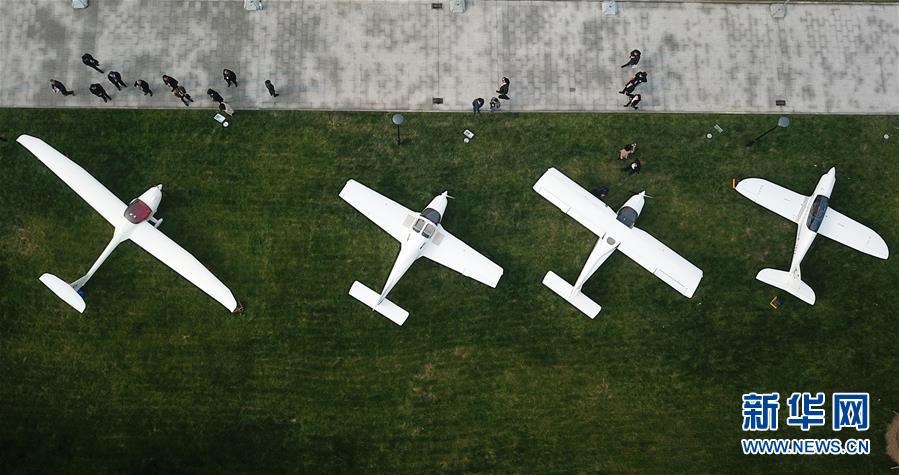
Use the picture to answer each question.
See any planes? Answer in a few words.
Yes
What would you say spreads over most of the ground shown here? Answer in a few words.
grass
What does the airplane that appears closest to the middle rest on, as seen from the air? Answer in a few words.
grass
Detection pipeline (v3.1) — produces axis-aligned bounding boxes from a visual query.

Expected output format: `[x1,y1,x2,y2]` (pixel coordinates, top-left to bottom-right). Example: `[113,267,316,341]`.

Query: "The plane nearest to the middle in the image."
[339,179,503,324]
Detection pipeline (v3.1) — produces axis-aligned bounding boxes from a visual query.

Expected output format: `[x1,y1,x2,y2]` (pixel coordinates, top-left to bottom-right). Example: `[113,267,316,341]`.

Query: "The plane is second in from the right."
[533,168,704,319]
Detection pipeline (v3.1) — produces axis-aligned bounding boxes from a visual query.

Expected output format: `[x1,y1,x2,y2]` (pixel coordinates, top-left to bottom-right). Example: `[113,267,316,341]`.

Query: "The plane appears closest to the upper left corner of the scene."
[19,137,237,313]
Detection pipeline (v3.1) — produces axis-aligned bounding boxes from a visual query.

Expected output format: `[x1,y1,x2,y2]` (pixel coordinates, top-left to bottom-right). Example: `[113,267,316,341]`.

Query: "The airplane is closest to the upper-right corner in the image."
[737,168,890,305]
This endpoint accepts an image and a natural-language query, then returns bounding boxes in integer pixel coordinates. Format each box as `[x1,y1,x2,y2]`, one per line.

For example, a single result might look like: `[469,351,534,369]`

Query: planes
[19,137,237,313]
[339,179,503,324]
[533,168,704,319]
[737,168,890,305]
